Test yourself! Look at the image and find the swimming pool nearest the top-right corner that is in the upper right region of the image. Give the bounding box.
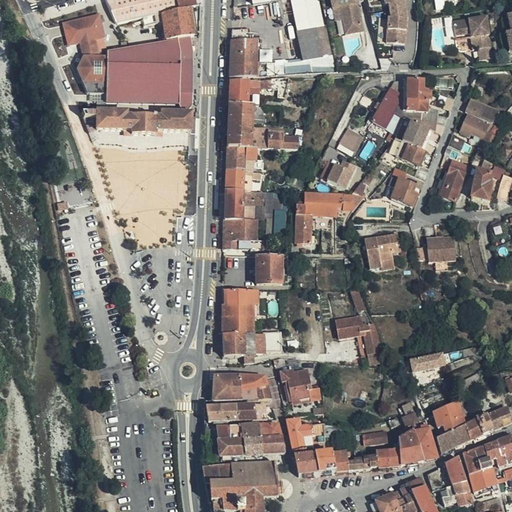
[432,27,444,52]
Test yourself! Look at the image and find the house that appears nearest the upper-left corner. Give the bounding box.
[62,13,104,55]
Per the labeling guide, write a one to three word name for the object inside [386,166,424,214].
house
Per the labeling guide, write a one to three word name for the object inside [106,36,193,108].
building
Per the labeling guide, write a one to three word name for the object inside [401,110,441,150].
house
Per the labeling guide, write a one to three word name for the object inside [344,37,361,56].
swimming pool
